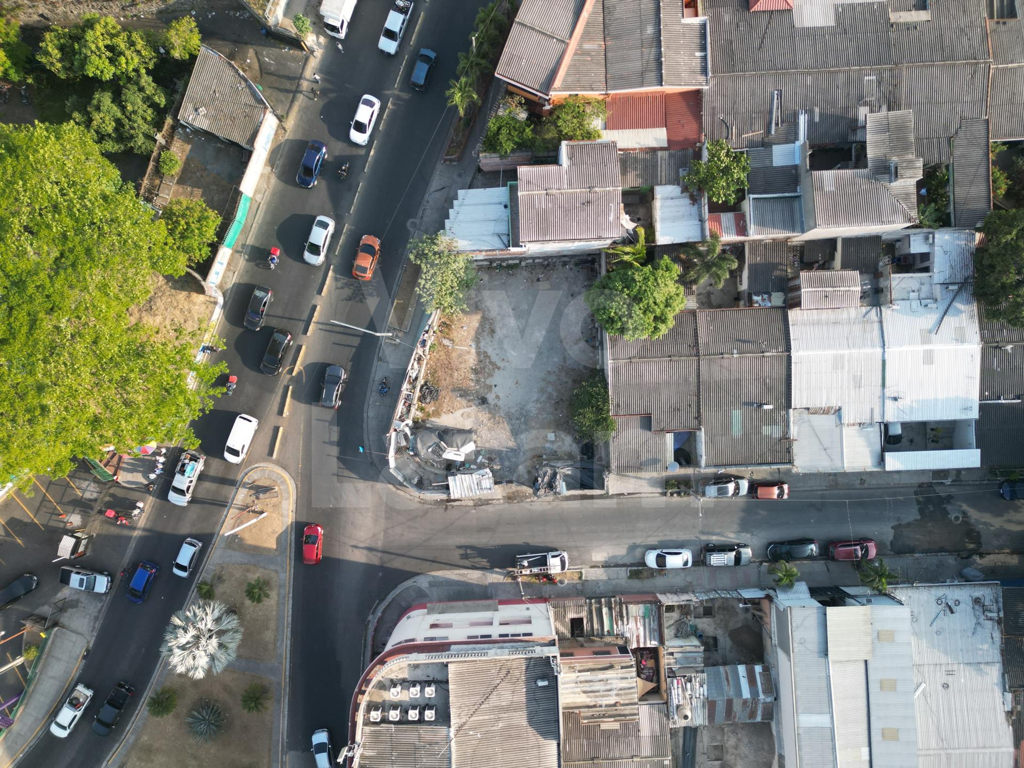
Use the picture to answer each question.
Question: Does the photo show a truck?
Yes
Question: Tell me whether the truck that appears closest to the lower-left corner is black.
No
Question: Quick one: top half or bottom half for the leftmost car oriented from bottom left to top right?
bottom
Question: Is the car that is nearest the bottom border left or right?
left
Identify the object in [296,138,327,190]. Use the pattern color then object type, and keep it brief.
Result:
blue car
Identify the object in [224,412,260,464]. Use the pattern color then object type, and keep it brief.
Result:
white van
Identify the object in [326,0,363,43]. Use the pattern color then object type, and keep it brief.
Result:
white truck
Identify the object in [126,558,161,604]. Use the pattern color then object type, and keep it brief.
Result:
blue car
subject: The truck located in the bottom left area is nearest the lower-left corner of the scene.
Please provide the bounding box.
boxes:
[50,680,98,740]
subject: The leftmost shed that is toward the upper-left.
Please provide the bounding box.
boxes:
[179,43,286,153]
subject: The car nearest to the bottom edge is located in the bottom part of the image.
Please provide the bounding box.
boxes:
[310,727,340,768]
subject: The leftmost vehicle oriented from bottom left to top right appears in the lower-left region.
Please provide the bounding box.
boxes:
[0,570,43,613]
